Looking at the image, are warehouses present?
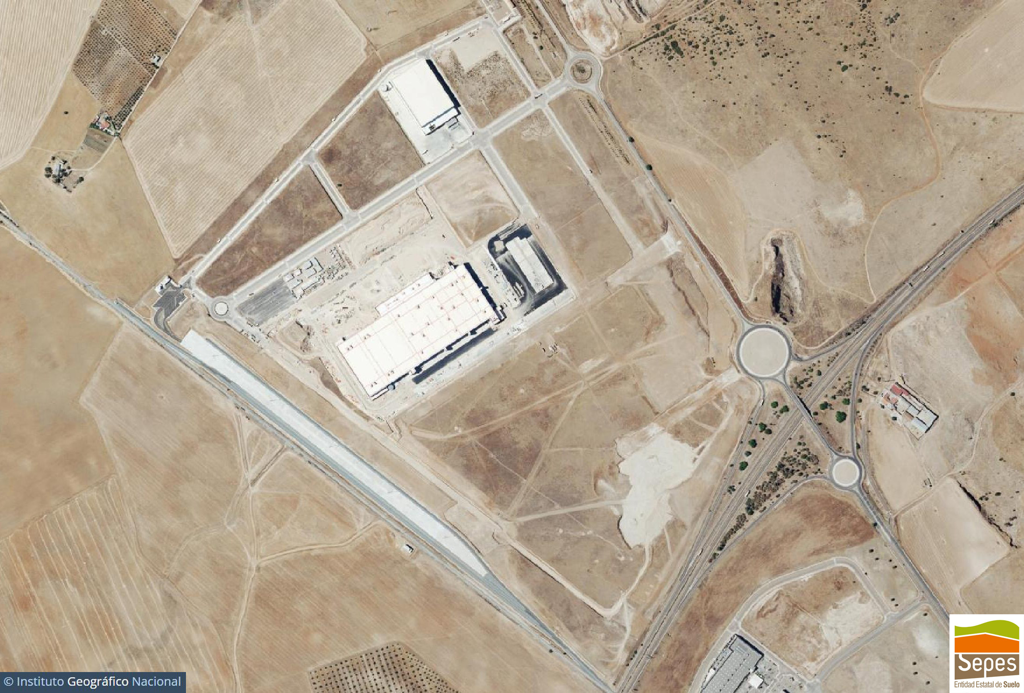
Yes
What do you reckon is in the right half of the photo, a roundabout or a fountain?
roundabout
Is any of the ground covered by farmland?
Yes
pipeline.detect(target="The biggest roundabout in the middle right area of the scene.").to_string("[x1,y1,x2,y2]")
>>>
[736,324,793,381]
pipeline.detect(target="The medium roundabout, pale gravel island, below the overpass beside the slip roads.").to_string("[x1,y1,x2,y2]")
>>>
[829,455,864,490]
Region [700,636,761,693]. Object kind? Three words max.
building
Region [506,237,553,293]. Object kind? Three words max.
building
